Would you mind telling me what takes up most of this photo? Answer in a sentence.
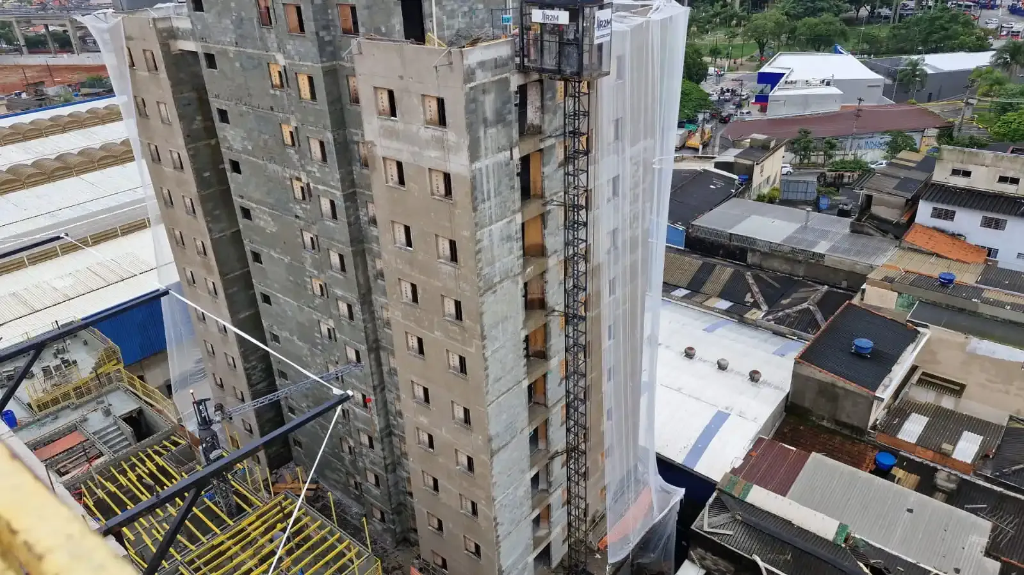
The bulk of the photo consists of buildings.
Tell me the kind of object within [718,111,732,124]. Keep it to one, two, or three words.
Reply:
vehicle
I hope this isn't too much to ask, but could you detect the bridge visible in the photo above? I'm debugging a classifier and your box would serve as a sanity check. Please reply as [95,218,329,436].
[0,3,124,53]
